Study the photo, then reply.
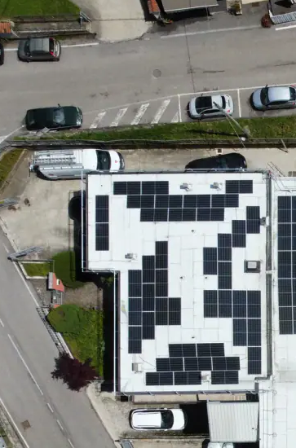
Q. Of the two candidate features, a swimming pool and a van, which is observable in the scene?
van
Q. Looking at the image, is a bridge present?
No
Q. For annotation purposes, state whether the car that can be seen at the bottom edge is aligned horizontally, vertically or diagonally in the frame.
horizontally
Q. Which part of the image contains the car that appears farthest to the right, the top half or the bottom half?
top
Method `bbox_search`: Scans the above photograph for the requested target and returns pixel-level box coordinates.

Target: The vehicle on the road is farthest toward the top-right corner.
[251,85,296,114]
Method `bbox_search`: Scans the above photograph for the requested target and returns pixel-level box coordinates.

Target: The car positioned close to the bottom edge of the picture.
[130,407,187,432]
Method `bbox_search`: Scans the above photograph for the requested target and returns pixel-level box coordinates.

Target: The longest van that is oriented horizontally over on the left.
[30,150,129,184]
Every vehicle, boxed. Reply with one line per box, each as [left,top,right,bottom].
[130,407,187,432]
[24,104,87,133]
[19,36,63,64]
[251,85,296,114]
[187,94,236,121]
[30,150,129,184]
[187,152,249,171]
